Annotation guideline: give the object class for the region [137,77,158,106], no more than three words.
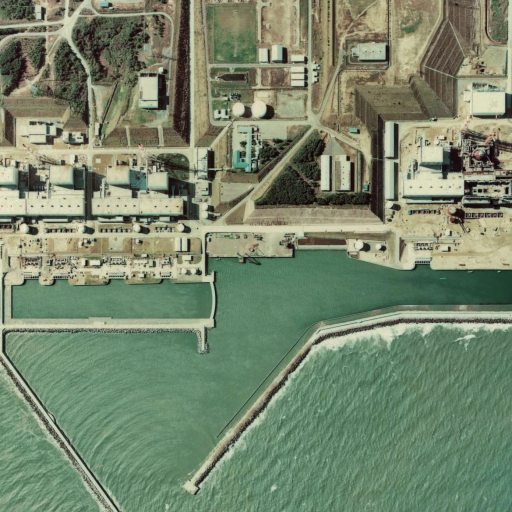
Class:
building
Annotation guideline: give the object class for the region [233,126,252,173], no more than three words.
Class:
building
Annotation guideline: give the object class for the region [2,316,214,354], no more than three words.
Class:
pier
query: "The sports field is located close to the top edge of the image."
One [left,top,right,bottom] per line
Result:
[214,6,256,62]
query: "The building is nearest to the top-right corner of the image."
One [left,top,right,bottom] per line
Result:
[463,84,505,118]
